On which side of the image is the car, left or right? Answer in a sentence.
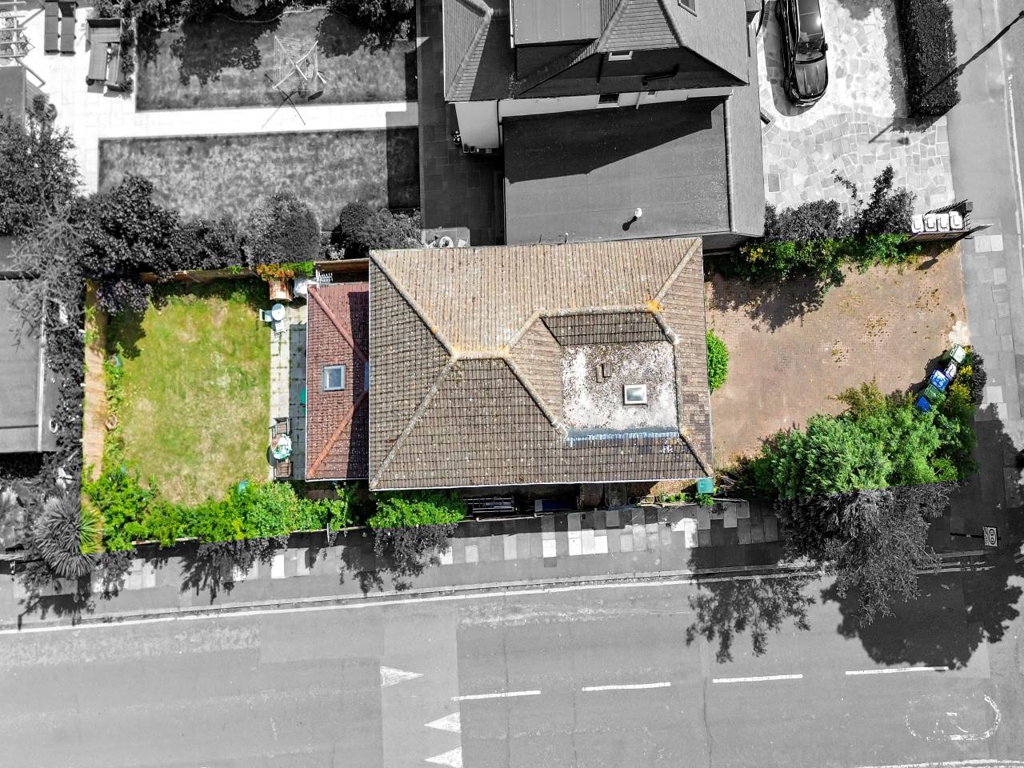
It is on the right.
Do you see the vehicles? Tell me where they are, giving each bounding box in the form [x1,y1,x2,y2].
[779,0,838,106]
